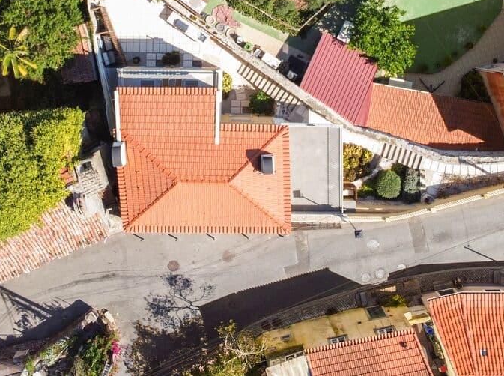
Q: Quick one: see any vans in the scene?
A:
No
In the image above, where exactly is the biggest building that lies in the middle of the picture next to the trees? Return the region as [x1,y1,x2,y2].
[113,70,292,242]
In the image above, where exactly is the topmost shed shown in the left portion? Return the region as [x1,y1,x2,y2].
[64,22,99,83]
